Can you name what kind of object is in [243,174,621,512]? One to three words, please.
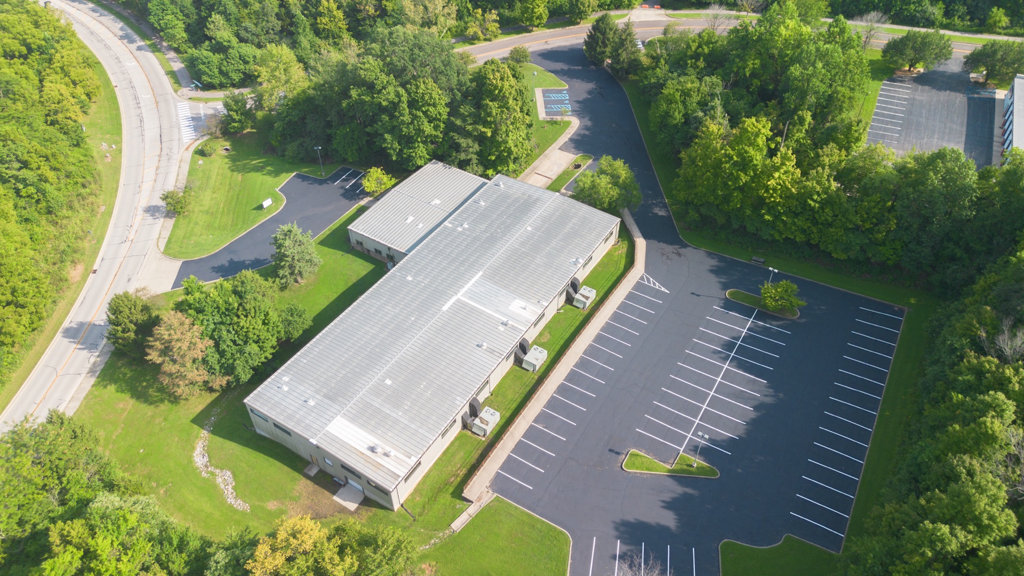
building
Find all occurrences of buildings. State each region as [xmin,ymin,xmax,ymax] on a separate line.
[1000,70,1024,196]
[243,174,621,512]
